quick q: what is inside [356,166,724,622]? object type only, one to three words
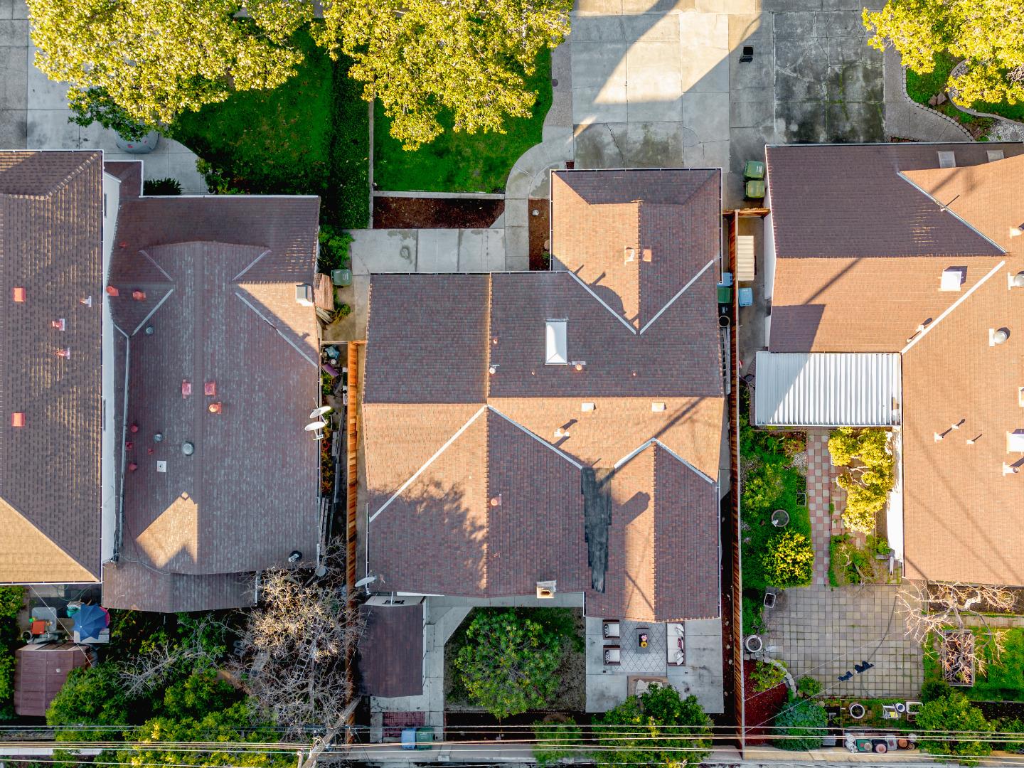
house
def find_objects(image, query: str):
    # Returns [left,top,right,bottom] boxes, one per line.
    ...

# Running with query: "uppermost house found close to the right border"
[744,140,1024,587]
